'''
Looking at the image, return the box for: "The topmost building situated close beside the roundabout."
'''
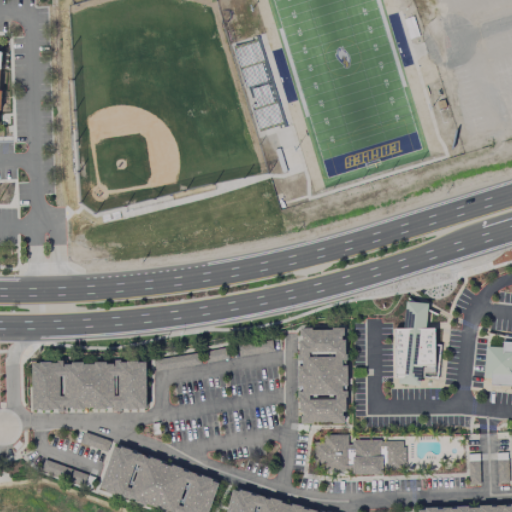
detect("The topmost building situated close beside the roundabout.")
[32,360,148,413]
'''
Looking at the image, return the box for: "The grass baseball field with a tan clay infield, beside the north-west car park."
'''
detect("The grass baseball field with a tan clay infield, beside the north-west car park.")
[72,0,269,214]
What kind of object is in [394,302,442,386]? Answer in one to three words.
building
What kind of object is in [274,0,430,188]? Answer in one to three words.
sports field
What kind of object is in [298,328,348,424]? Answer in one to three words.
building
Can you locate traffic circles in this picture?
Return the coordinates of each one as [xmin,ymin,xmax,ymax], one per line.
[0,407,23,448]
